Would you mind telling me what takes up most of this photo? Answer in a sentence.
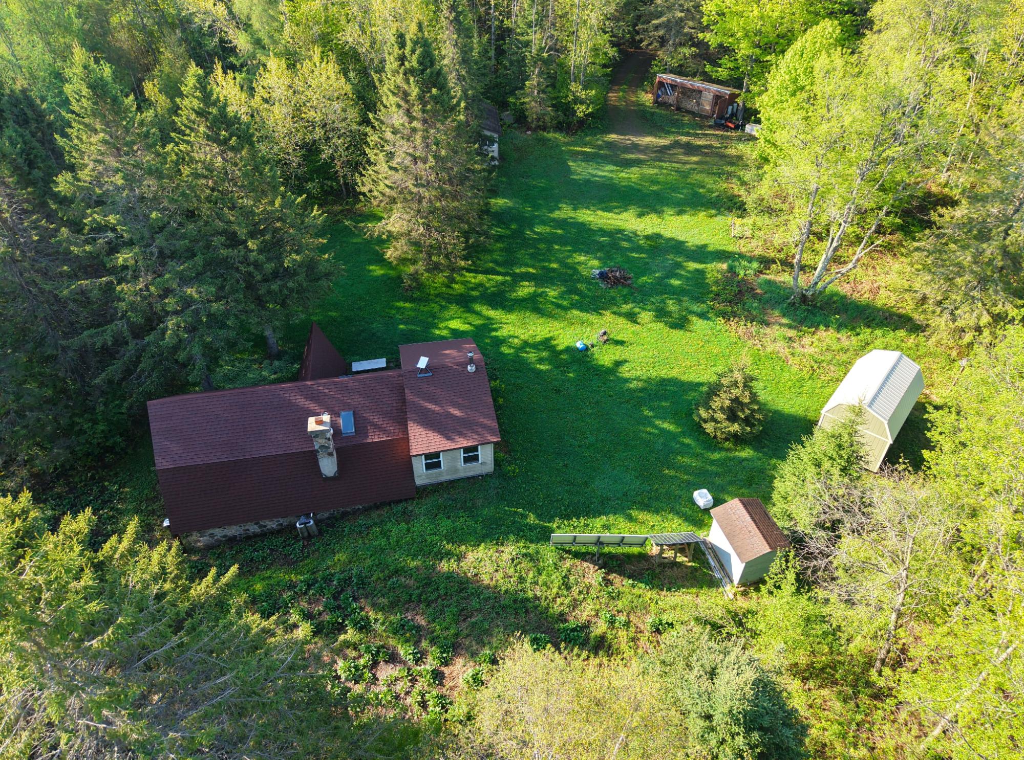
What you mostly see from above here is trees.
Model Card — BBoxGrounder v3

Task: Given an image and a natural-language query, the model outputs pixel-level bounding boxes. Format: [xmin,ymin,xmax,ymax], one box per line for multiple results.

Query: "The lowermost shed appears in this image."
[704,498,792,585]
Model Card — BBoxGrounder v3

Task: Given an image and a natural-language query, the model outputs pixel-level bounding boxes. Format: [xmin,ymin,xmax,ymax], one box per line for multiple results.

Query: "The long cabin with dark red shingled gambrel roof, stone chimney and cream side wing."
[152,322,498,542]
